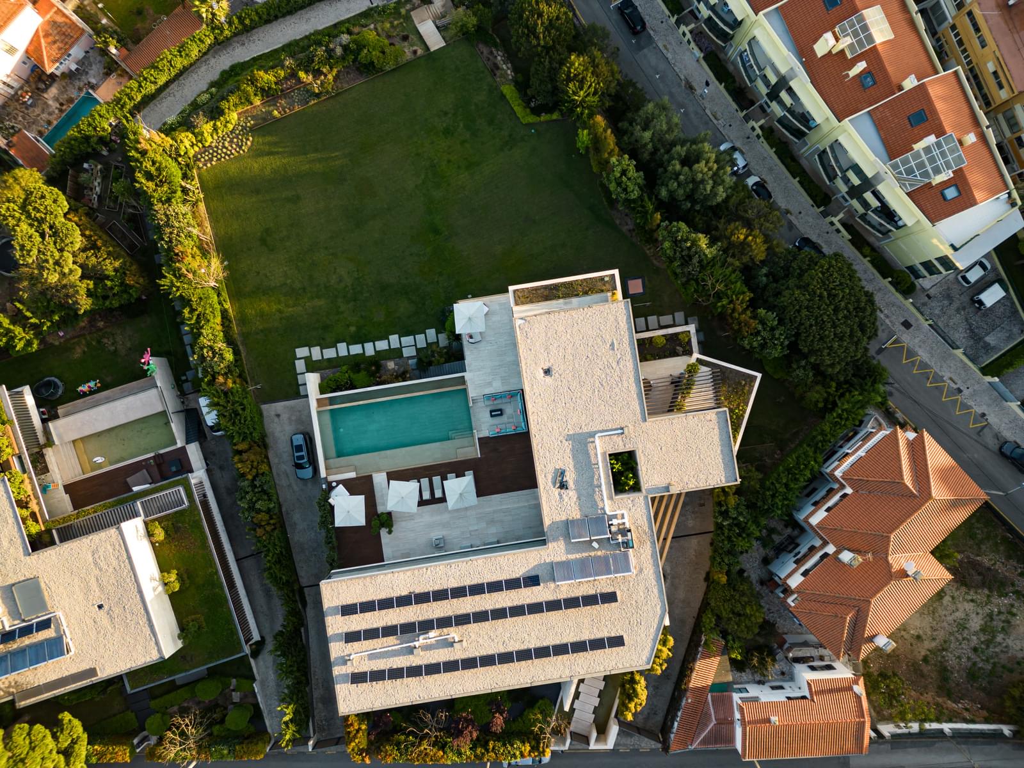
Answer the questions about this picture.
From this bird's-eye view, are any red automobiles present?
No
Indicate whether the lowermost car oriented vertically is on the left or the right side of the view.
left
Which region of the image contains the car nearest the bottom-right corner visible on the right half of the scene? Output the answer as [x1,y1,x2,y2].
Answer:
[993,437,1024,475]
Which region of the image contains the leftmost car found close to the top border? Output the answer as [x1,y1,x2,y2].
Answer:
[615,0,648,41]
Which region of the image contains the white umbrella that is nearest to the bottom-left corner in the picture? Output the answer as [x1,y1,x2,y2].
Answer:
[334,495,365,526]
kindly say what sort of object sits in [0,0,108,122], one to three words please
house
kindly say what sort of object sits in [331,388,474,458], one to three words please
swimming pool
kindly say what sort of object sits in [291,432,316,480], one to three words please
car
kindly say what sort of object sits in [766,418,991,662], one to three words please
house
